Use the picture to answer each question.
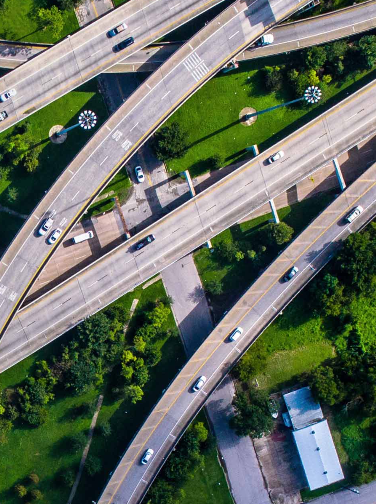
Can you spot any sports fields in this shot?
No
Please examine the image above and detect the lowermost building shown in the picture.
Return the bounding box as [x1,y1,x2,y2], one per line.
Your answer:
[288,420,344,490]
